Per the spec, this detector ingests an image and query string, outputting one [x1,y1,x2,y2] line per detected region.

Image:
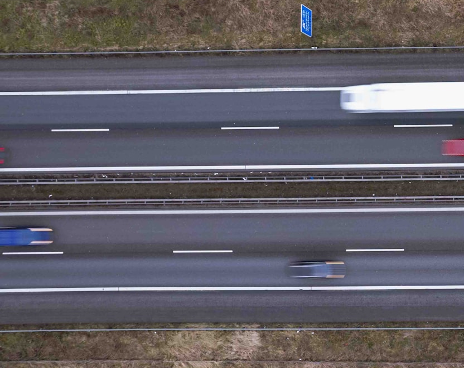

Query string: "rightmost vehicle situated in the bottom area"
[293,260,343,280]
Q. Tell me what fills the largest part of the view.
paved ground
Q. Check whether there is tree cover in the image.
No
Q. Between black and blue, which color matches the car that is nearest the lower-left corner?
blue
